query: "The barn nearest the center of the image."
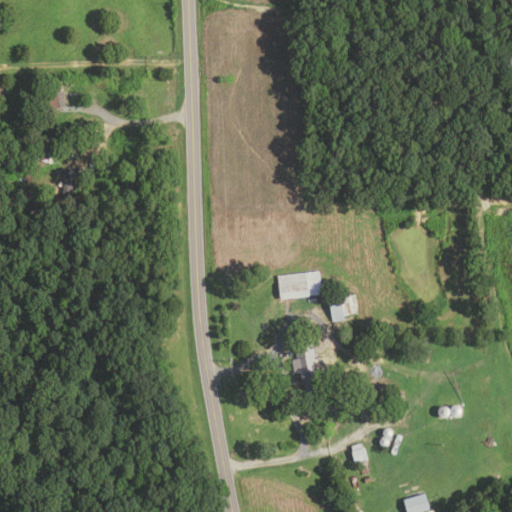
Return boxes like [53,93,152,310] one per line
[277,270,322,300]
